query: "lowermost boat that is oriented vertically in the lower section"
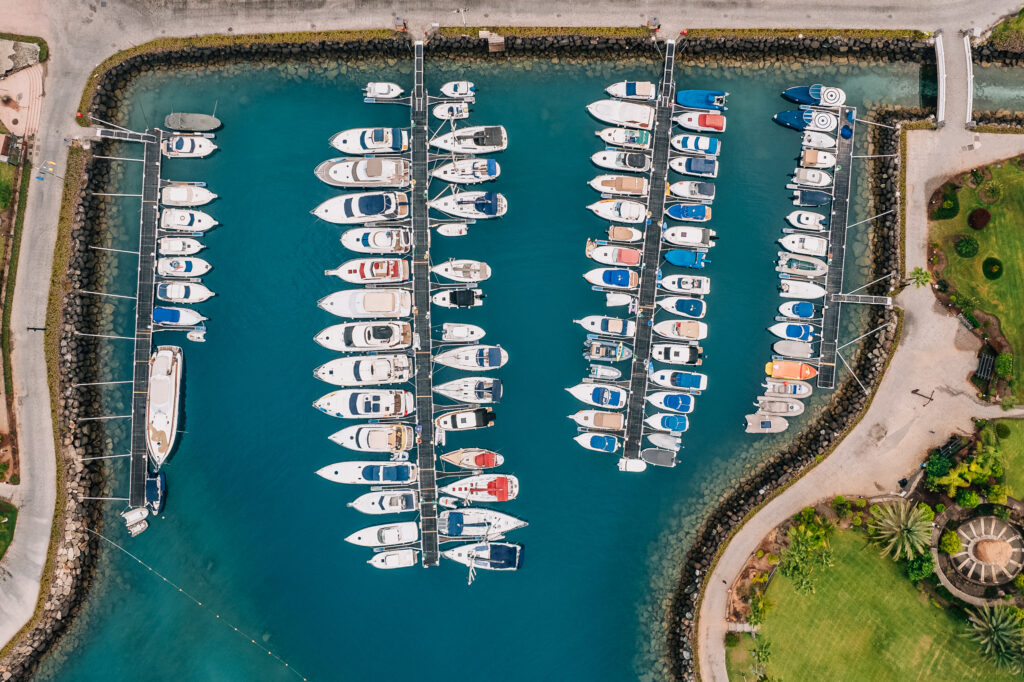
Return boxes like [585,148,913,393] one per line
[144,471,165,516]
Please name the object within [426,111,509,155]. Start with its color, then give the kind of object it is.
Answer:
white boat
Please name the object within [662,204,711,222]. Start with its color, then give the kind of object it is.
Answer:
blue boat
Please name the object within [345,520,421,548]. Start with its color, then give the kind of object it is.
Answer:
white boat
